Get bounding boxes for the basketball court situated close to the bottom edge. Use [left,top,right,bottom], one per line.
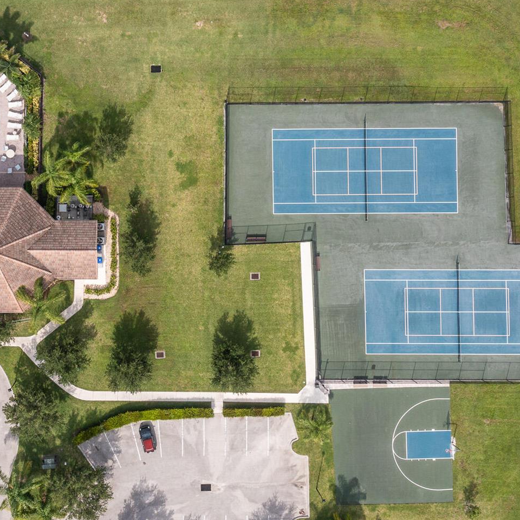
[330,386,453,505]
